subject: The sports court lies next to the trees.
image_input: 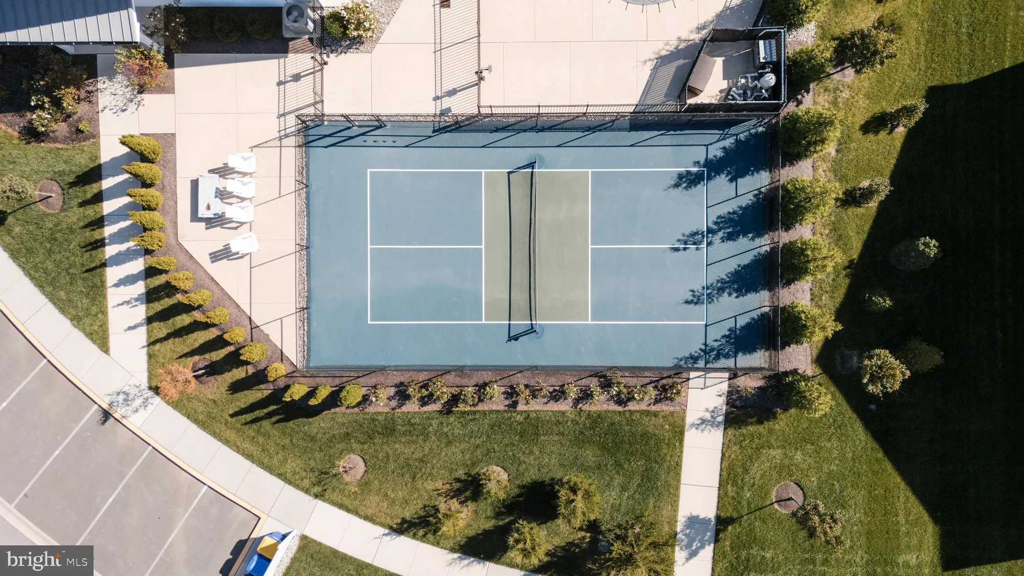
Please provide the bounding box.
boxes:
[306,119,770,369]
